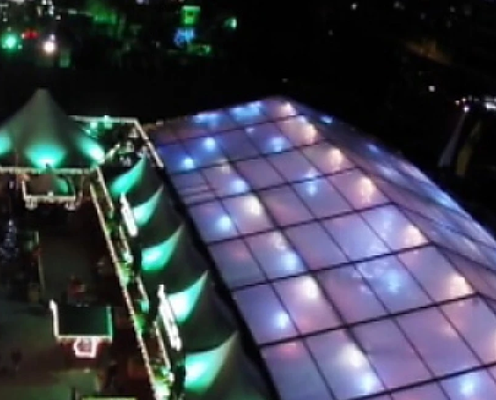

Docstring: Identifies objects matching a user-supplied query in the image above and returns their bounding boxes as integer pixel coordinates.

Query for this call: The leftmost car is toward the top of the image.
[451,85,489,118]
